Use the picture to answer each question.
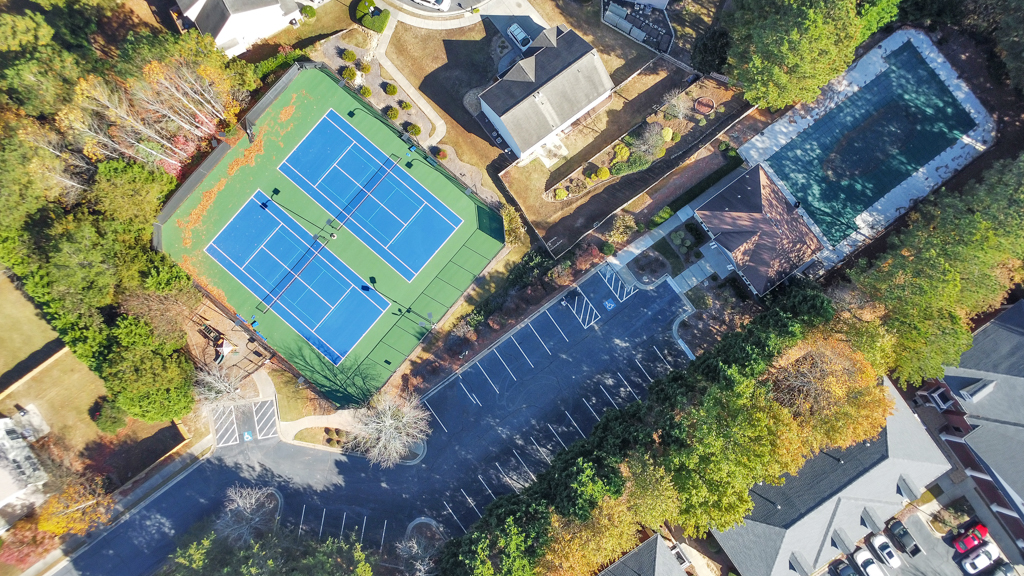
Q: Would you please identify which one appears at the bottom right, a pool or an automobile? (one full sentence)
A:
Visible at the bottom right is an automobile.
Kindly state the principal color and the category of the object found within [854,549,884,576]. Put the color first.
white car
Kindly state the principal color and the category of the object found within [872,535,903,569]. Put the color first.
white car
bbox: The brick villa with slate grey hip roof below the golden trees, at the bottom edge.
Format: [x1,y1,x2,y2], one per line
[599,533,700,576]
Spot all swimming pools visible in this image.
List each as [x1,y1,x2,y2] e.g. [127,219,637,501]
[739,28,996,276]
